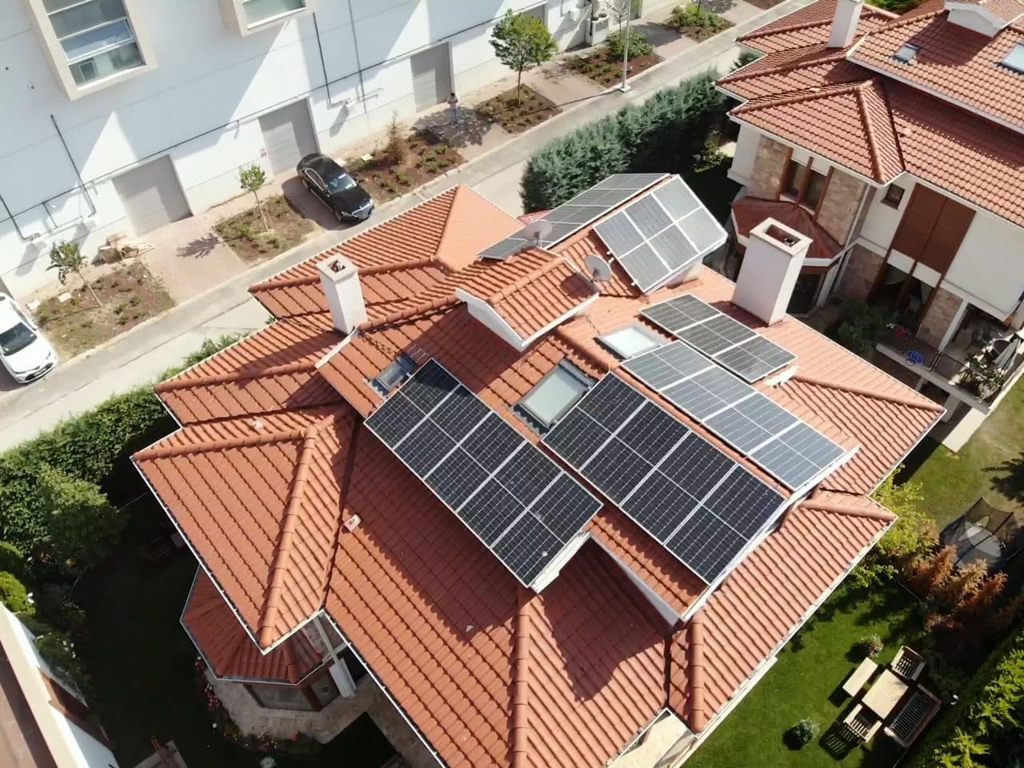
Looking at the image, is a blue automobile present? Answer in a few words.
No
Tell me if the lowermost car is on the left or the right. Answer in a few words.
left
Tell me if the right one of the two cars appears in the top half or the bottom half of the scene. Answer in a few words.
top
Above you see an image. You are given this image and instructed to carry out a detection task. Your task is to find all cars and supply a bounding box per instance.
[0,298,56,383]
[291,150,375,223]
